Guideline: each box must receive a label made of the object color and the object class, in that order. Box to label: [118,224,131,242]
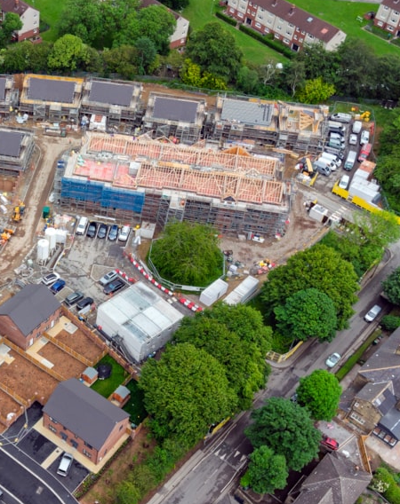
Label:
white vehicle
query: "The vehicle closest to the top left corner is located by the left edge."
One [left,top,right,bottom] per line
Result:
[11,201,26,227]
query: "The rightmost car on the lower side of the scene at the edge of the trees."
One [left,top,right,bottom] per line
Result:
[363,303,383,323]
